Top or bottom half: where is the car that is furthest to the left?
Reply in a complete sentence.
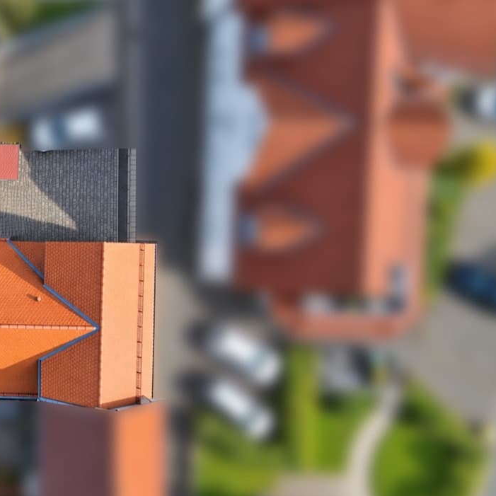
It is in the top half that the car that is furthest to the left appears.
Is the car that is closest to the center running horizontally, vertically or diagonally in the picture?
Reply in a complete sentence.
Seen from above, the car that is closest to the center lies diagonally.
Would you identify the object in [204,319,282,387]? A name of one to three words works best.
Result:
car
